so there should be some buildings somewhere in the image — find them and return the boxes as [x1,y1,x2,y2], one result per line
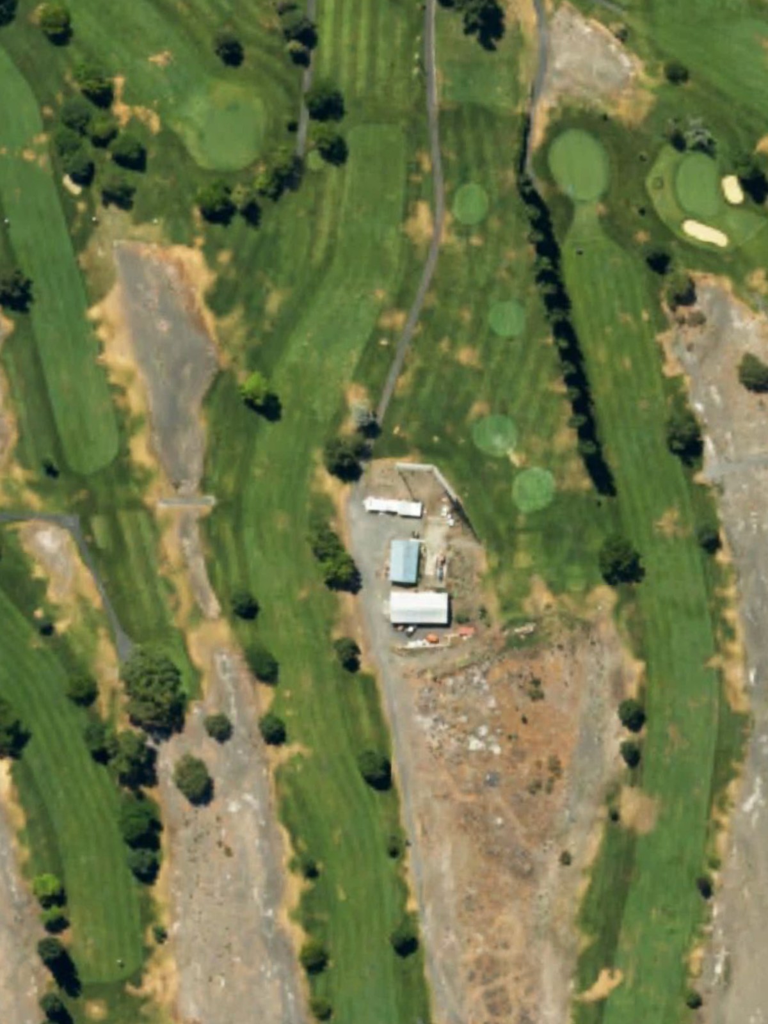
[390,591,448,624]
[365,495,422,516]
[390,539,420,583]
